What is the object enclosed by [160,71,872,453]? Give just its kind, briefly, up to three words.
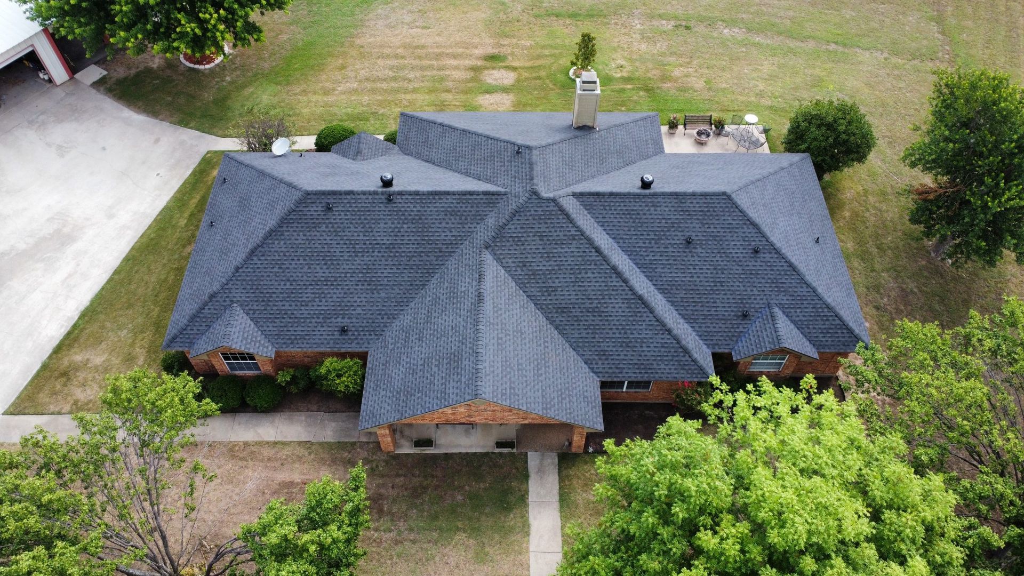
house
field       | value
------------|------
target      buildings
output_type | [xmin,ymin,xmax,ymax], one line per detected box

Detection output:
[160,71,872,453]
[0,0,75,120]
